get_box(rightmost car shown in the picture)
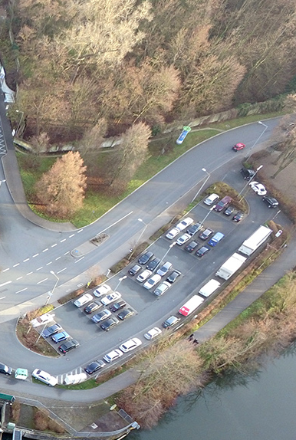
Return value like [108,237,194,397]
[260,195,282,209]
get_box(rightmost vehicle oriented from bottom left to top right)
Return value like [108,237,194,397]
[240,227,272,252]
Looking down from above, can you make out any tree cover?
Yes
